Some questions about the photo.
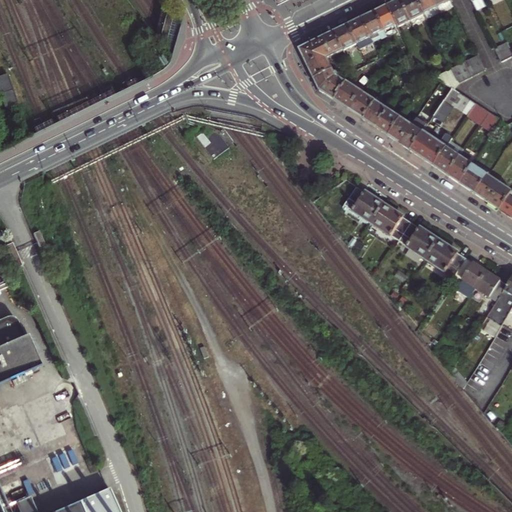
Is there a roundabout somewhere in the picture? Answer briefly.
No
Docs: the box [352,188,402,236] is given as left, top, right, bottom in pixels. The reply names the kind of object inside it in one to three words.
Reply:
house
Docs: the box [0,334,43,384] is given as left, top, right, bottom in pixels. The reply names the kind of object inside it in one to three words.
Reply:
building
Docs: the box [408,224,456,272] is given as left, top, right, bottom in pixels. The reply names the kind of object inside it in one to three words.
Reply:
house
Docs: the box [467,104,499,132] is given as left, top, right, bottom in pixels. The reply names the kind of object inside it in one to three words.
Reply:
building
